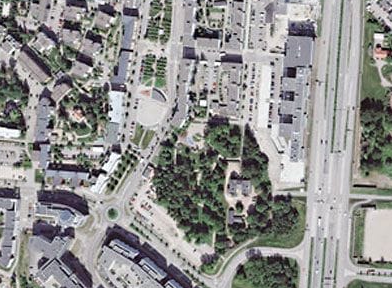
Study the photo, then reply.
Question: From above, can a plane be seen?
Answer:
No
